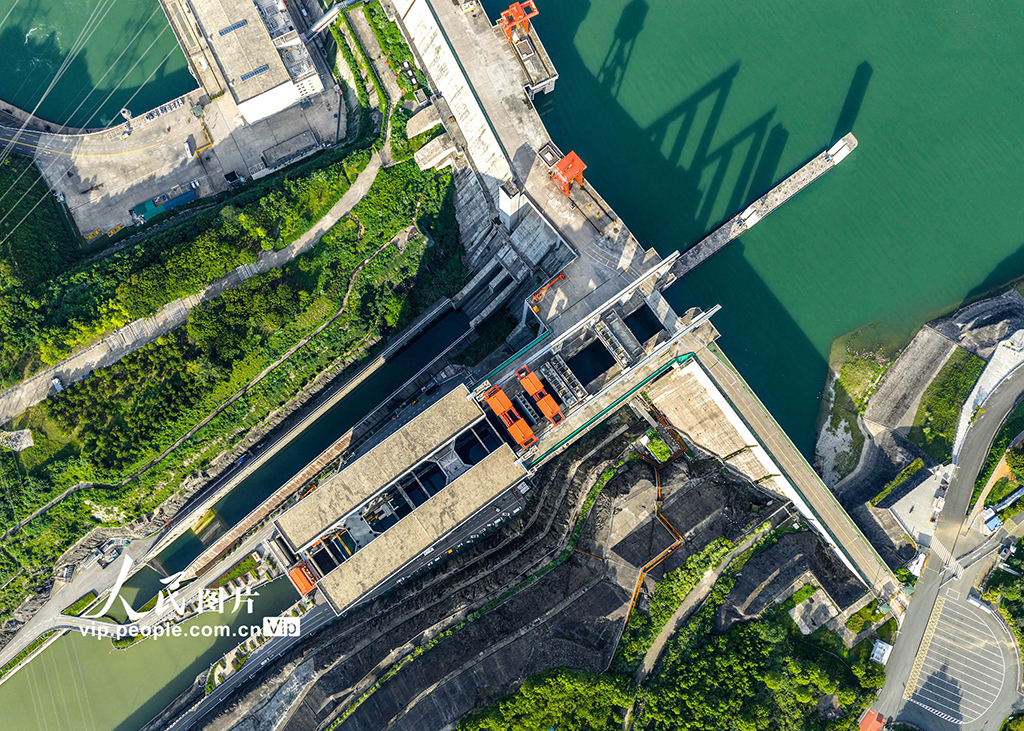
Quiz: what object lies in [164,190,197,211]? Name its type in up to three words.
shed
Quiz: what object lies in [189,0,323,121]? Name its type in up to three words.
building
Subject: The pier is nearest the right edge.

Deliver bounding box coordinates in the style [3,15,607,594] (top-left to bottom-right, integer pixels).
[810,133,857,181]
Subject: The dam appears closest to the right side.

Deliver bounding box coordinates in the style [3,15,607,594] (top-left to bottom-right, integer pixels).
[385,0,901,587]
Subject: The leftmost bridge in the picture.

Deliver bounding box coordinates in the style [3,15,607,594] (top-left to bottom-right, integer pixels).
[0,603,166,675]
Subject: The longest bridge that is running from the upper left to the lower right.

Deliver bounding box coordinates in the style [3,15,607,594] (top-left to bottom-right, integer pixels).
[643,288,690,335]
